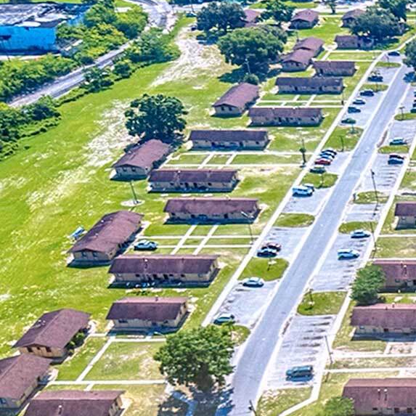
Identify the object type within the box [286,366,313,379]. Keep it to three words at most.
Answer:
vehicle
